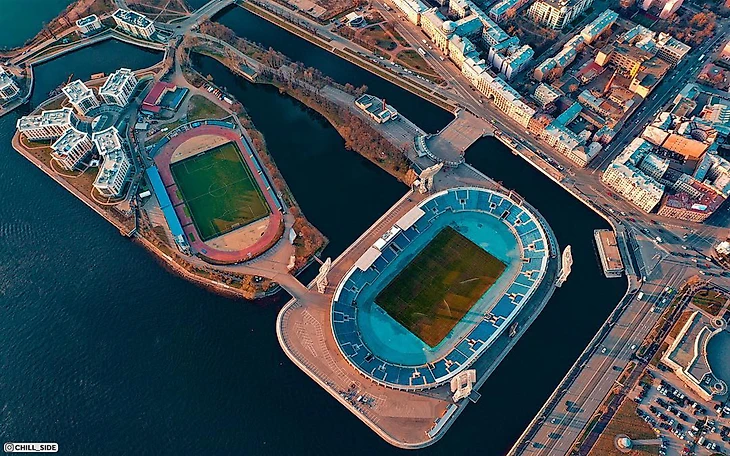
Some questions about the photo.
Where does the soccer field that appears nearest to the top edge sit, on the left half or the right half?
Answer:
left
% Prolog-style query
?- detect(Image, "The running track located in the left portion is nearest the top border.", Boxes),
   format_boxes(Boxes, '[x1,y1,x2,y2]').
[162,126,281,260]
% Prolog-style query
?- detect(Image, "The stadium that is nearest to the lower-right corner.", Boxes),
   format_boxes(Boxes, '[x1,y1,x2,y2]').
[331,187,548,393]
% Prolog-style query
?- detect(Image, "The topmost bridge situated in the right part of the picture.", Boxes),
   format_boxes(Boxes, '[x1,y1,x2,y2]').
[436,114,494,150]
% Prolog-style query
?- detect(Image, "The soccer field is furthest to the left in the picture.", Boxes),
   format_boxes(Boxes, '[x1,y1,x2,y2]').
[171,141,271,240]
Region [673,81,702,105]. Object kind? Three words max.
building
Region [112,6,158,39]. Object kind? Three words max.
house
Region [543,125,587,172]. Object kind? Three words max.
house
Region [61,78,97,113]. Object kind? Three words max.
building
